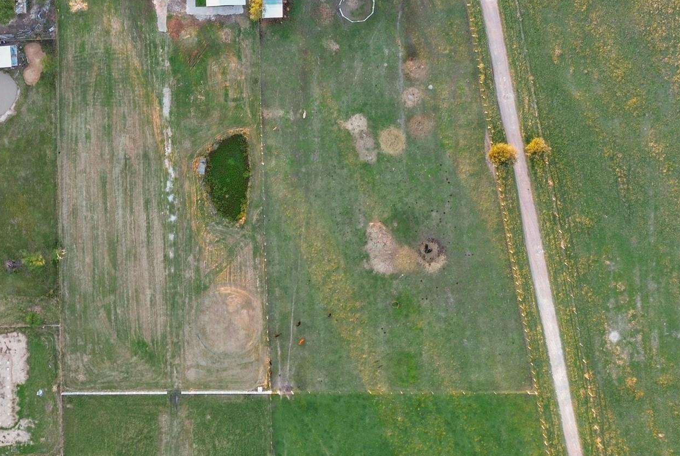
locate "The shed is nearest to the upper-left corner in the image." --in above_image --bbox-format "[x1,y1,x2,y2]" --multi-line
[0,45,19,68]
